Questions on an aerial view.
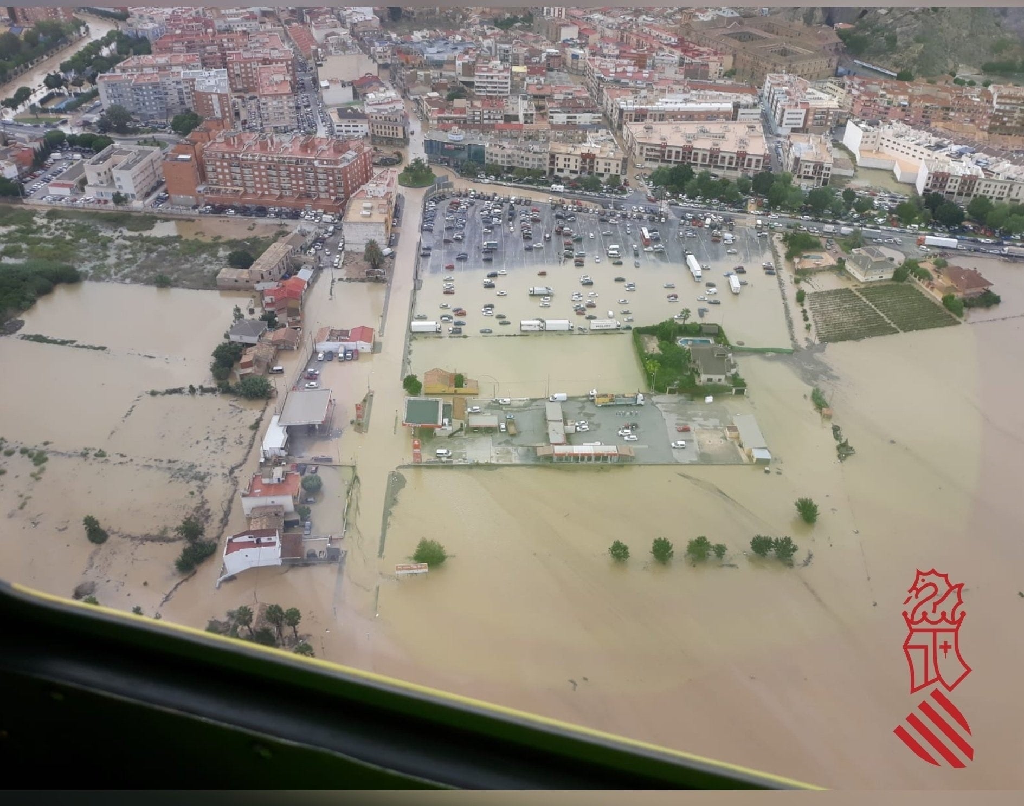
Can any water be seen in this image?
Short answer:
Yes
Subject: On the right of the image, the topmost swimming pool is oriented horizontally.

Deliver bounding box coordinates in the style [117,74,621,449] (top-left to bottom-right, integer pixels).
[795,249,837,267]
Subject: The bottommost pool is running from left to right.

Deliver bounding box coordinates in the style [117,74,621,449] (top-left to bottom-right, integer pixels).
[680,335,716,349]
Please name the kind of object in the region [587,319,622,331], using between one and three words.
vehicle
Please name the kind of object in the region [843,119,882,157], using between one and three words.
building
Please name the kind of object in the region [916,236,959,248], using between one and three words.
vehicle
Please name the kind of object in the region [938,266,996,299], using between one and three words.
house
